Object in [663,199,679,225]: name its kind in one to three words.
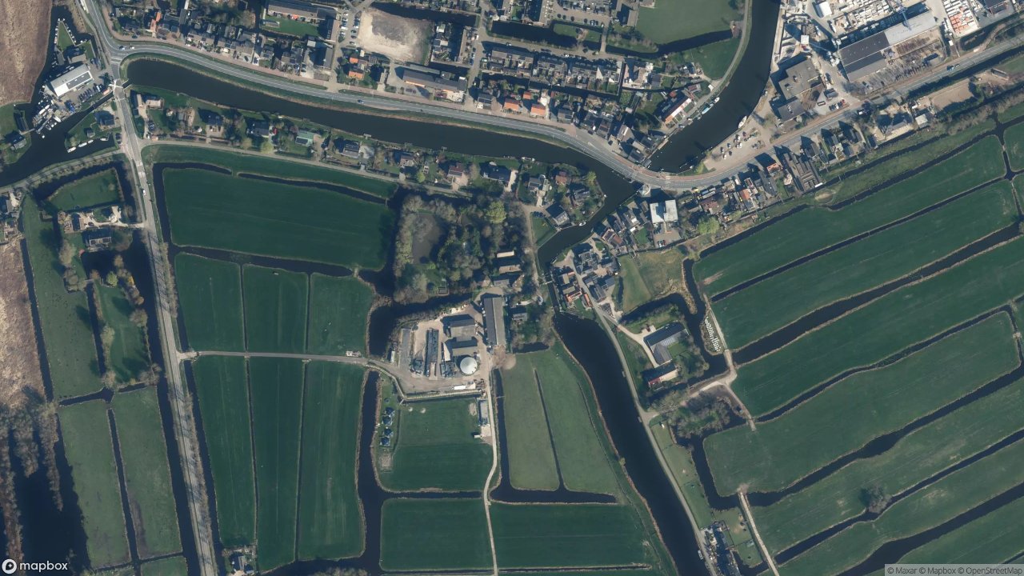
building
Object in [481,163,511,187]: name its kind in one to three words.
house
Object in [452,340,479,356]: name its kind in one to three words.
barn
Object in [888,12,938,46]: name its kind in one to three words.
building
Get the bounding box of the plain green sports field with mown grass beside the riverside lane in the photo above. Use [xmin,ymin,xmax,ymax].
[638,0,746,43]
